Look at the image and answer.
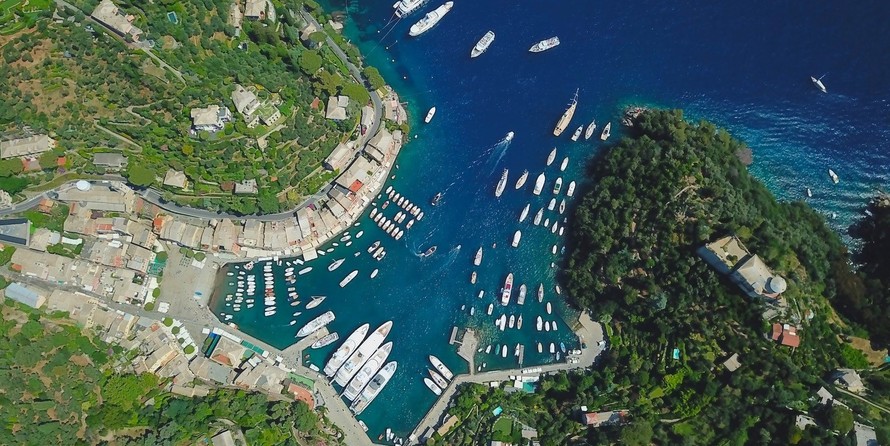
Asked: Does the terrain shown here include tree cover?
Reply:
Yes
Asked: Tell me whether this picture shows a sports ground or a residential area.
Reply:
residential area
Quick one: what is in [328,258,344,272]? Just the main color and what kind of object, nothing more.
white boat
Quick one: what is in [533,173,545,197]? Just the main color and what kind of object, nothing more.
white boat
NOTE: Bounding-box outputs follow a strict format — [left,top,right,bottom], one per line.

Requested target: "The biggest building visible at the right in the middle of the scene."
[694,235,788,299]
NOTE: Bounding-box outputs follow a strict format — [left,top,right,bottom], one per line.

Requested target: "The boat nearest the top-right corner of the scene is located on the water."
[812,76,837,93]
